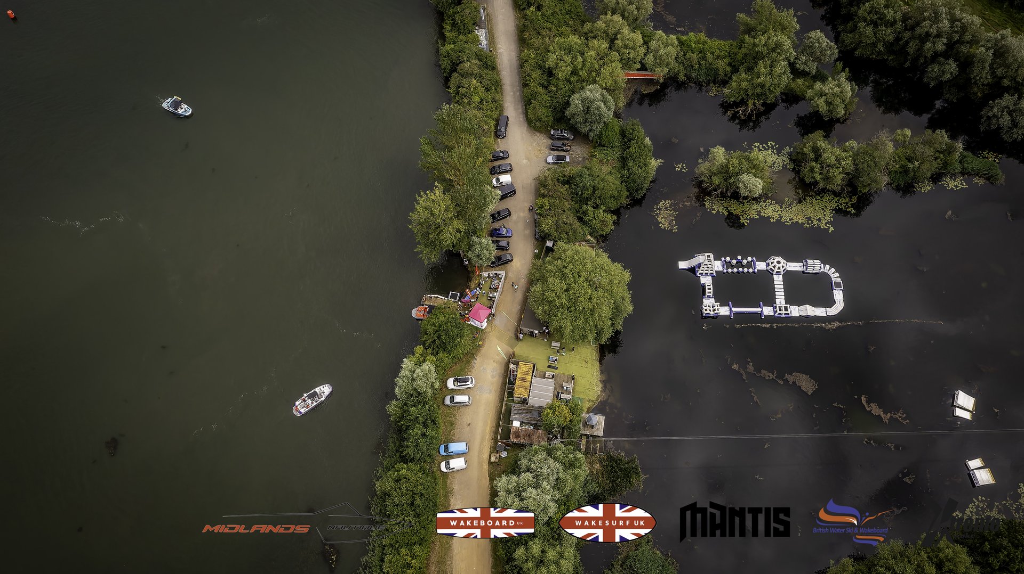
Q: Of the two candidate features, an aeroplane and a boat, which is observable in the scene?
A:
boat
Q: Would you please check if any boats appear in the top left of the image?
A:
Yes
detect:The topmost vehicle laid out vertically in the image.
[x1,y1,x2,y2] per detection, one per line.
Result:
[496,114,508,136]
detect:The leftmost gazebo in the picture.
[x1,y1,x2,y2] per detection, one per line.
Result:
[469,303,494,331]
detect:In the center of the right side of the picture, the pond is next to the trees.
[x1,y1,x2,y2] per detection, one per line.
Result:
[578,0,1024,574]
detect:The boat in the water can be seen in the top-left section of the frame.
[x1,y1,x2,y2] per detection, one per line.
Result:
[161,96,189,113]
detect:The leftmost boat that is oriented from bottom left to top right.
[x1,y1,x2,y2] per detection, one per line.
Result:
[290,383,332,419]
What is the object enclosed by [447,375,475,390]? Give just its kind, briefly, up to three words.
car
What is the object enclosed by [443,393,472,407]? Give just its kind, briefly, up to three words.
car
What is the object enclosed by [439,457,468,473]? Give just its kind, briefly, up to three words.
vehicle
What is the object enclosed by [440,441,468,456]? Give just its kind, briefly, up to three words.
vehicle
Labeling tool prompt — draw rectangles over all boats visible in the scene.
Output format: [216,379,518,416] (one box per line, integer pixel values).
[411,305,434,319]
[161,96,189,113]
[290,383,332,419]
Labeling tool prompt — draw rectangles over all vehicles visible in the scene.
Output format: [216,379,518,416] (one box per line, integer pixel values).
[443,393,472,407]
[496,114,508,136]
[490,225,513,239]
[491,151,511,162]
[490,206,513,224]
[439,457,468,473]
[490,161,514,176]
[440,441,468,456]
[548,139,572,152]
[495,181,521,201]
[490,172,513,187]
[447,375,475,390]
[547,153,570,164]
[489,252,515,269]
[492,240,512,251]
